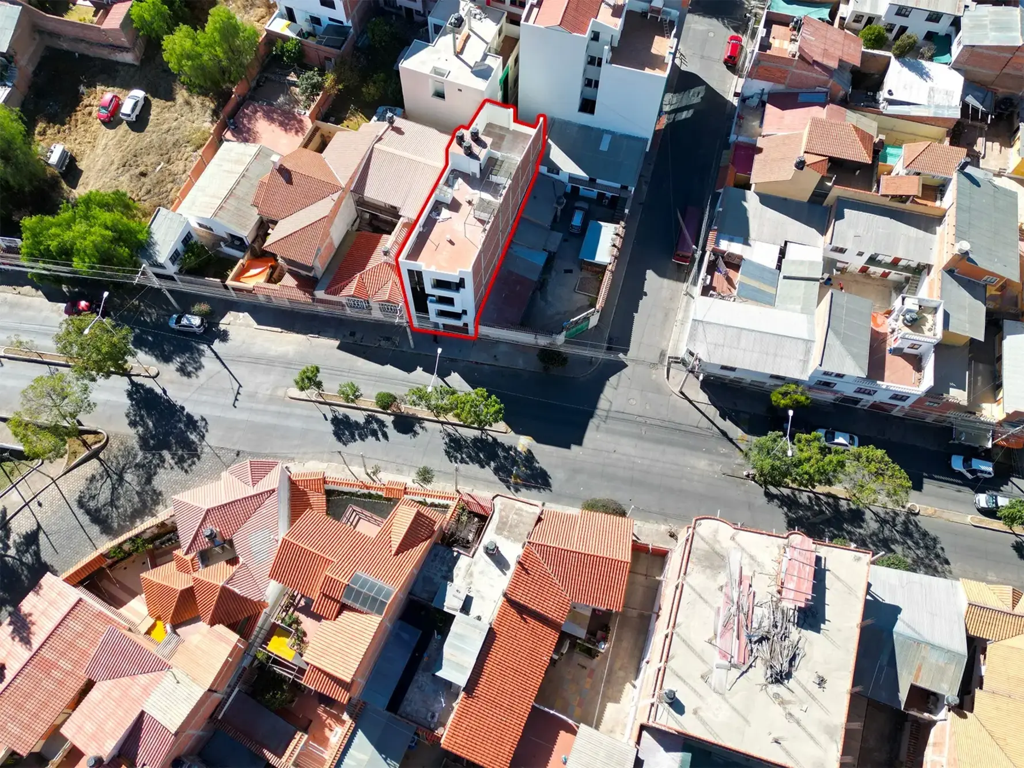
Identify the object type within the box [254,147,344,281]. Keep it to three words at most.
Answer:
house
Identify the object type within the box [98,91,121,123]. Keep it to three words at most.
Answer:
car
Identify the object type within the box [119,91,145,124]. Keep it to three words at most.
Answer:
car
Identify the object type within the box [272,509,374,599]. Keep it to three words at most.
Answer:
house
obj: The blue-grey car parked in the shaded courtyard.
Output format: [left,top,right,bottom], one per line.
[567,201,589,236]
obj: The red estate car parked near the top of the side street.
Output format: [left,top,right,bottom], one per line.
[723,36,742,68]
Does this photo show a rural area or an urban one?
urban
